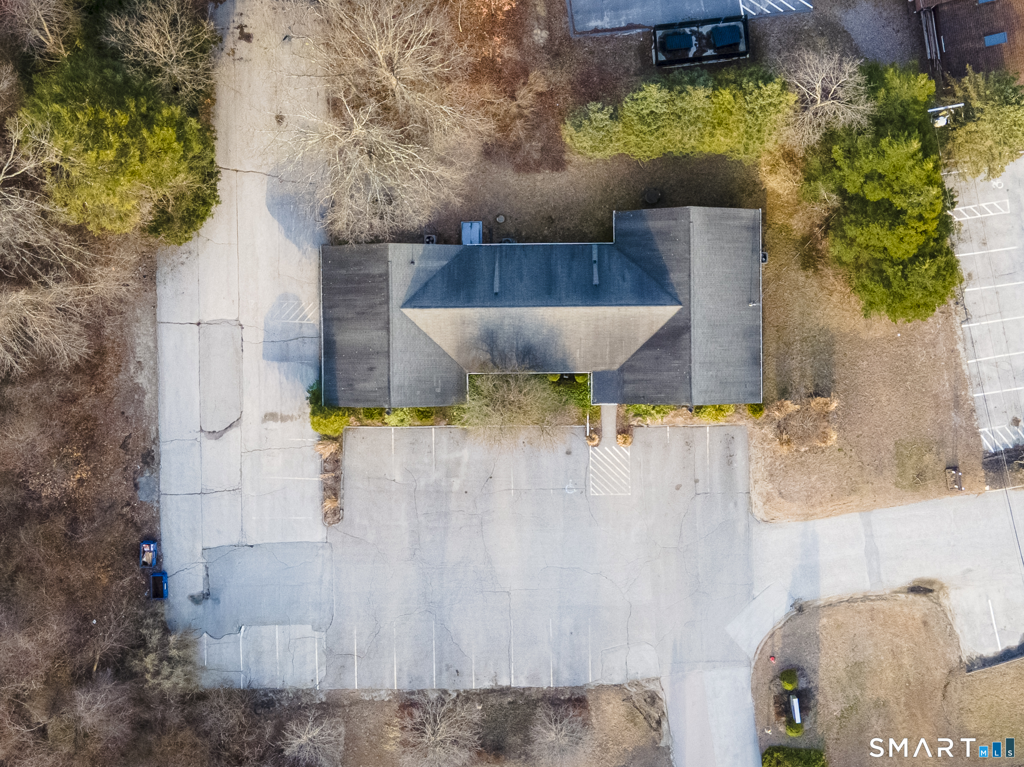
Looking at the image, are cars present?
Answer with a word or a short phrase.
No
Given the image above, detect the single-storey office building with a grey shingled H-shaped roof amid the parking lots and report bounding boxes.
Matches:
[319,204,765,415]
